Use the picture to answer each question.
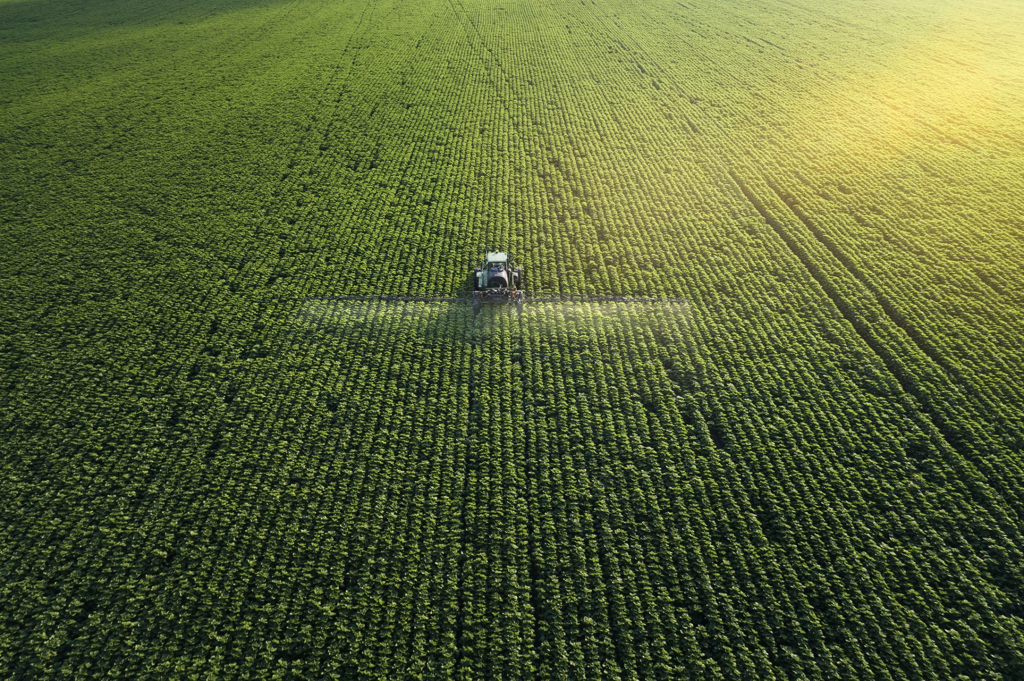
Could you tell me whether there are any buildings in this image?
No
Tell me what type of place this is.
farmland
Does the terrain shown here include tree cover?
No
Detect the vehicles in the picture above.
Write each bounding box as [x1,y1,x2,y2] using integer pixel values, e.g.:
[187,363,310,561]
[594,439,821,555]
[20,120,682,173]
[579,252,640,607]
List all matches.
[473,245,522,291]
